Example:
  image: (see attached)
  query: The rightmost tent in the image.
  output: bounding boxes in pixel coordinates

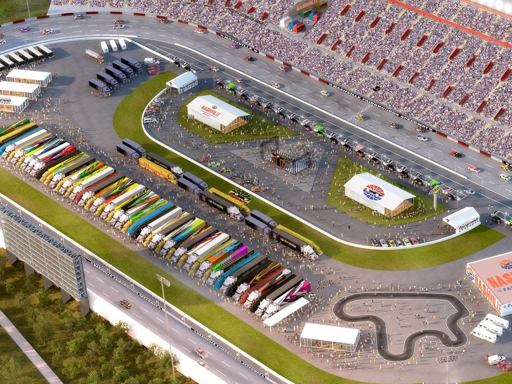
[443,204,482,233]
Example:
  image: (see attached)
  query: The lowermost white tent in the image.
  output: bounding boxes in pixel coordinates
[298,322,360,351]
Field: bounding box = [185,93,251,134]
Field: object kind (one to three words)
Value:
tent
